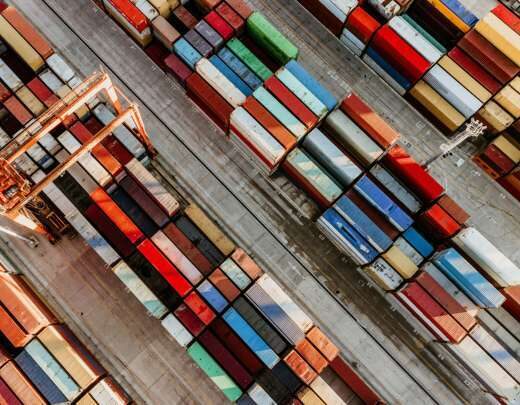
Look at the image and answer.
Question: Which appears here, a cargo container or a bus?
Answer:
cargo container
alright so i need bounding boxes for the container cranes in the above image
[0,64,160,249]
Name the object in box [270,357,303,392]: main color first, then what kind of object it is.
black shipping container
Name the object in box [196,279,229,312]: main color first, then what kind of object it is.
blue shipping container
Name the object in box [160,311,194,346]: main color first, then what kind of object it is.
white shipping container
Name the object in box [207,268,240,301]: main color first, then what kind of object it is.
red shipping container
